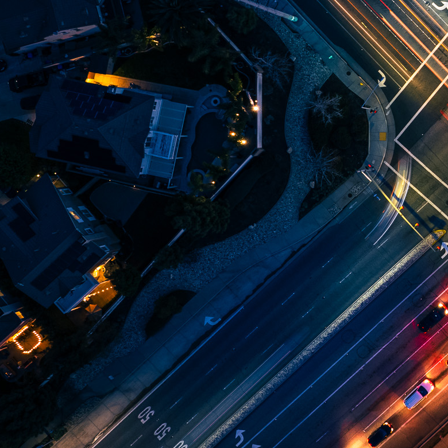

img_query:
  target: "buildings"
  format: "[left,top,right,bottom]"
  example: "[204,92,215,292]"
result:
[0,0,121,55]
[30,71,195,179]
[0,173,125,315]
